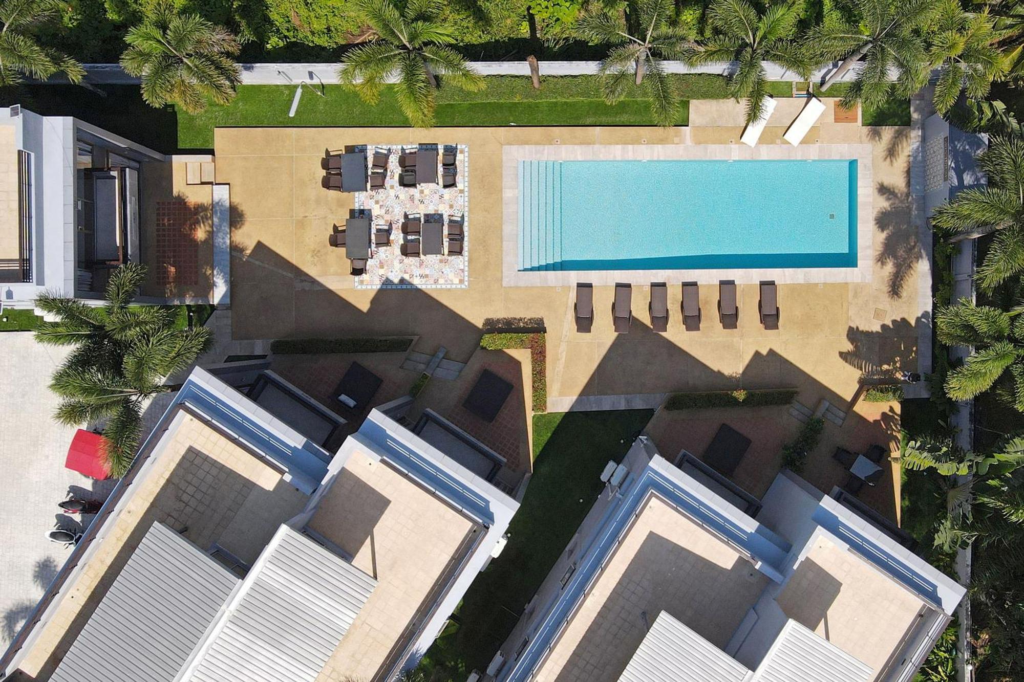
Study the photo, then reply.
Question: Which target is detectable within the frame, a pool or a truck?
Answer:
pool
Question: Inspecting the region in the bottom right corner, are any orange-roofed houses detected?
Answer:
No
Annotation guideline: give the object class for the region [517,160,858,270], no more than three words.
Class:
swimming pool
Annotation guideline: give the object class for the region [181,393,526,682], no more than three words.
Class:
house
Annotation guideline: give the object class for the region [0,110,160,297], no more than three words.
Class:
house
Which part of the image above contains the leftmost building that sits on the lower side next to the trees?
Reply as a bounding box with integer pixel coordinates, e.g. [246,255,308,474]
[0,359,346,682]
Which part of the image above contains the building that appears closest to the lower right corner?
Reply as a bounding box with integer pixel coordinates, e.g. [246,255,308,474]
[730,465,973,682]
